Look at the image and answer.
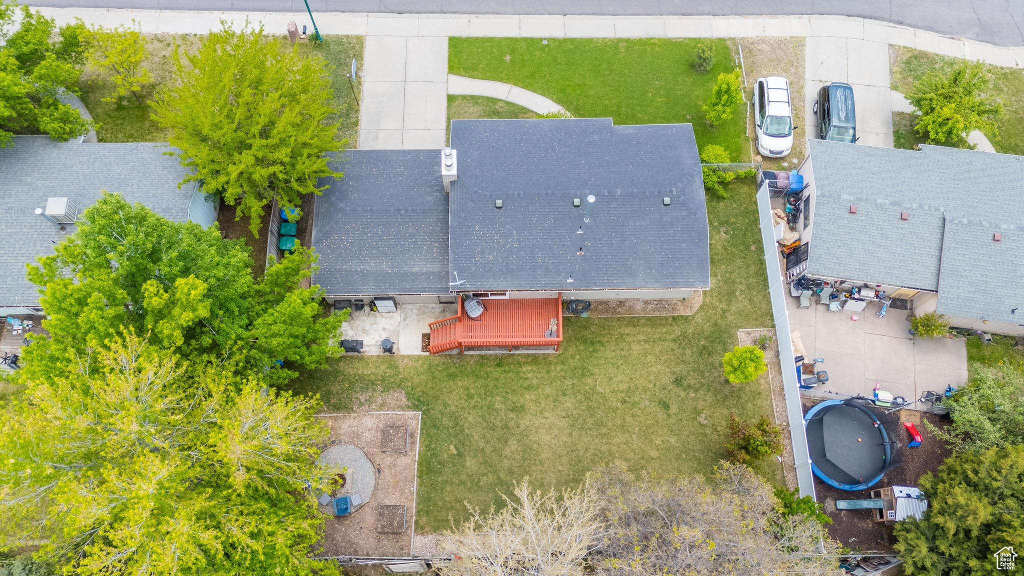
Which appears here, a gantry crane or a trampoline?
trampoline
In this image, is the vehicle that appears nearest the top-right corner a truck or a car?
car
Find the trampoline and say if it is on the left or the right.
right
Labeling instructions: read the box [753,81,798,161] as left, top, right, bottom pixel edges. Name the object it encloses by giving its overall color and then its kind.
white car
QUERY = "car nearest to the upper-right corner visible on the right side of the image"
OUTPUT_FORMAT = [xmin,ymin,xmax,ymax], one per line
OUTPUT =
[815,84,863,144]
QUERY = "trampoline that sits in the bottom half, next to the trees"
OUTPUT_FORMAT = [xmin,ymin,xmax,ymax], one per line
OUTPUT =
[802,392,909,496]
